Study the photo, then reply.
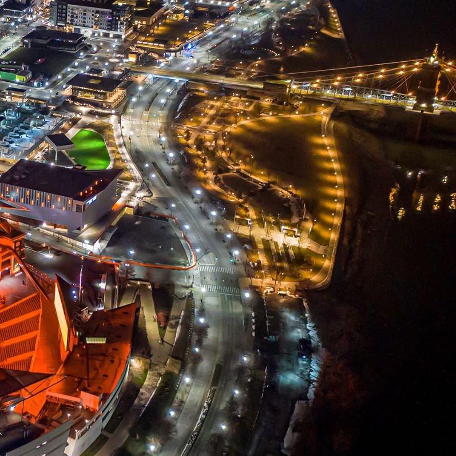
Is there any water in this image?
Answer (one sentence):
Yes, there's water in this view.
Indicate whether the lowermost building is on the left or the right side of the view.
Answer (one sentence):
It is on the left.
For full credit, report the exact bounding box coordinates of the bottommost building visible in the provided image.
[0,159,123,231]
